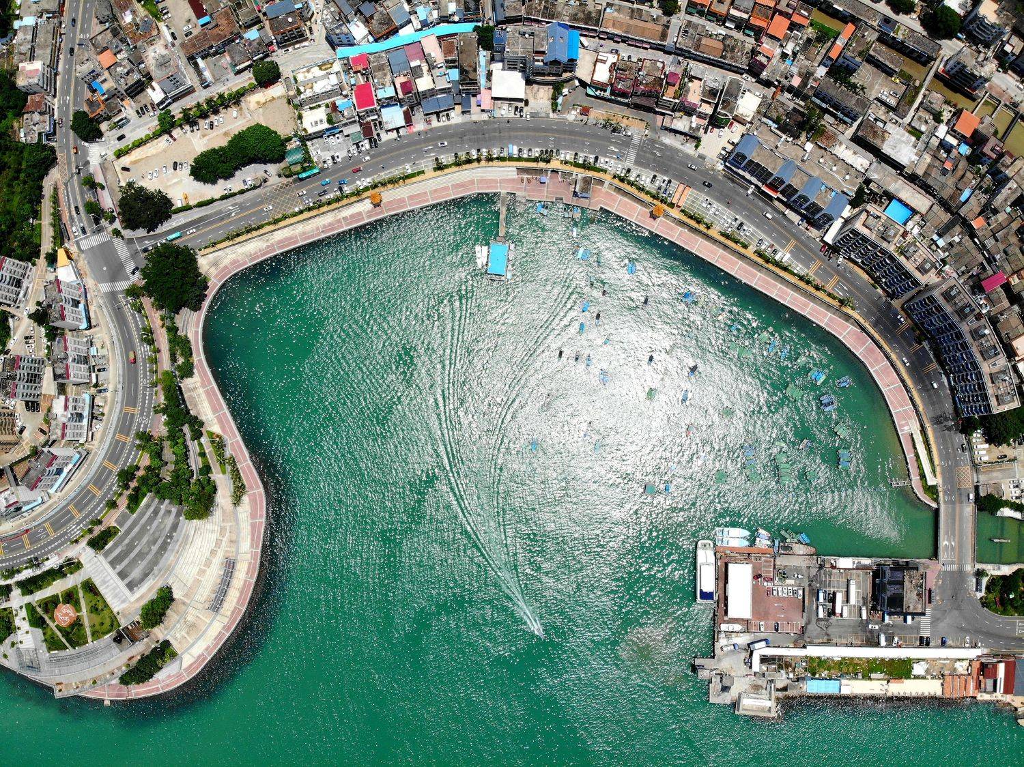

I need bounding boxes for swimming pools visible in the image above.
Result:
[879,197,916,227]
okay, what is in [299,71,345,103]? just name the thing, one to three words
house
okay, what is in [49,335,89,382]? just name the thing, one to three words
building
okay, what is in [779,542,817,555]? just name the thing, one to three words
ship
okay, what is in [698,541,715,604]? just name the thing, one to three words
ship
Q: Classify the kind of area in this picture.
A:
residential area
